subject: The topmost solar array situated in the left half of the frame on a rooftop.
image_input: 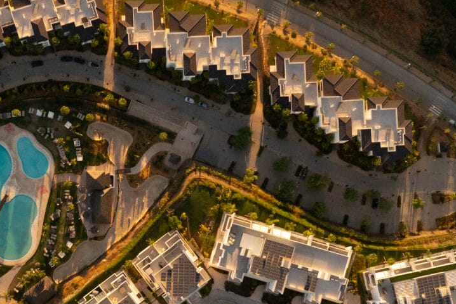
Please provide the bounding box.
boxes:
[167,259,196,297]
